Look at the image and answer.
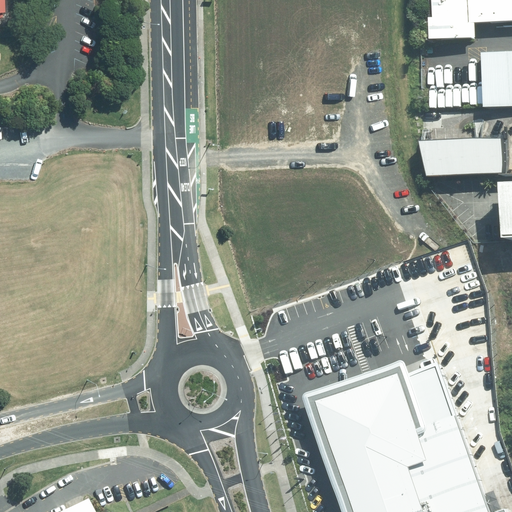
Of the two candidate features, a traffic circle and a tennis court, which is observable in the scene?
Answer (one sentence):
Visible in the photo is a traffic circle.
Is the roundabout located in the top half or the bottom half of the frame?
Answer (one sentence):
The bottom half of the photo is where the roundabout is.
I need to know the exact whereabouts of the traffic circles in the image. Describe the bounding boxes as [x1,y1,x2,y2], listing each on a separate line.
[160,346,246,432]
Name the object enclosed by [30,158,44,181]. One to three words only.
vehicle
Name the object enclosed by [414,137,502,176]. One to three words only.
building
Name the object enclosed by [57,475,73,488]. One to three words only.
vehicle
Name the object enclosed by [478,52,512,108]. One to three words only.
shed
